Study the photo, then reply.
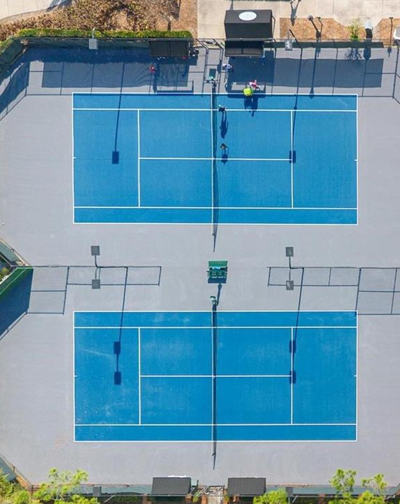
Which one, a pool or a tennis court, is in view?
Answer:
tennis court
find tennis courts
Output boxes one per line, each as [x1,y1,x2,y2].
[73,92,358,225]
[74,311,357,442]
